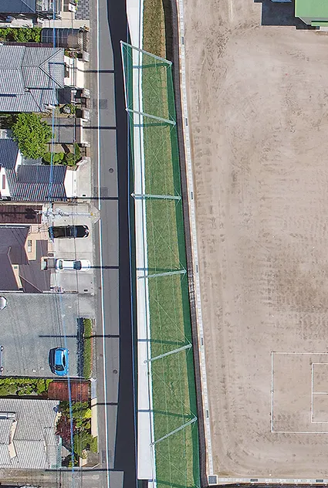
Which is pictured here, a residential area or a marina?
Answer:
residential area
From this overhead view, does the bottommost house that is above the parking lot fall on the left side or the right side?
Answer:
left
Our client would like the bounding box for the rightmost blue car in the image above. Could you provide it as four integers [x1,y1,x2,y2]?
[49,348,66,376]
